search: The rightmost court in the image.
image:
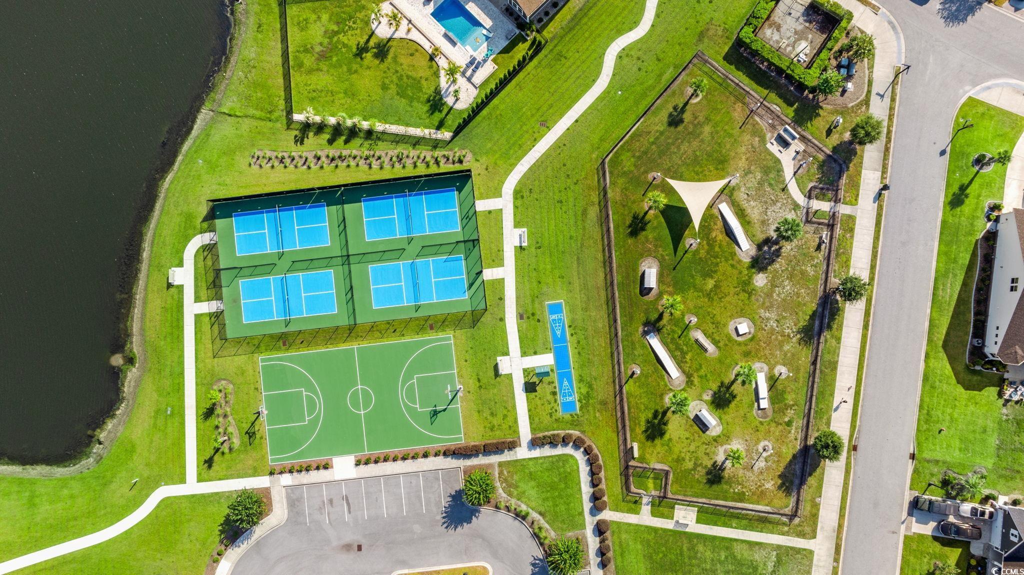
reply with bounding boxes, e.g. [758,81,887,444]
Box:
[546,300,578,415]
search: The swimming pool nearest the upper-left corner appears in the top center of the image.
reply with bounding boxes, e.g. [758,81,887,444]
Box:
[428,0,494,54]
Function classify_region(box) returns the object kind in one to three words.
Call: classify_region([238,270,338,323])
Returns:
sports court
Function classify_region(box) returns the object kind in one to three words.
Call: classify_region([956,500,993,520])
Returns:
car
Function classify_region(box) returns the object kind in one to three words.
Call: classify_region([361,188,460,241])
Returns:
sports court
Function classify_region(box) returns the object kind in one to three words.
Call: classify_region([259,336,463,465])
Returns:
basketball court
